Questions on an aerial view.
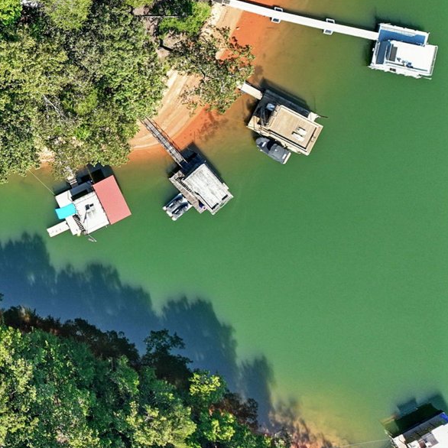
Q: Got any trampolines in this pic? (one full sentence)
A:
No, there isn't any trampoline down there.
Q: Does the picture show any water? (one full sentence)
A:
Yes, there's water in this view.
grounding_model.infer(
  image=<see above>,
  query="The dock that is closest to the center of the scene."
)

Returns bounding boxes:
[168,154,233,216]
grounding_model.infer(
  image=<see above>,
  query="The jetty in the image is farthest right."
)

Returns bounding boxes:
[370,22,442,81]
